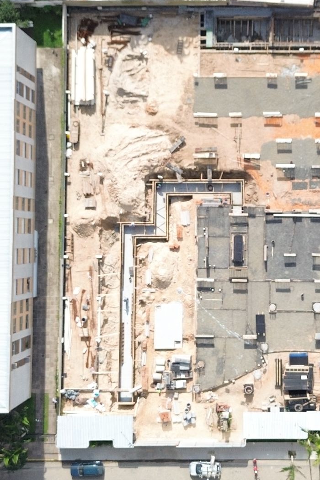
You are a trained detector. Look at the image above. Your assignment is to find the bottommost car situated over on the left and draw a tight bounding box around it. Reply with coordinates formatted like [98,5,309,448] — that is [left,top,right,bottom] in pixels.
[72,461,106,479]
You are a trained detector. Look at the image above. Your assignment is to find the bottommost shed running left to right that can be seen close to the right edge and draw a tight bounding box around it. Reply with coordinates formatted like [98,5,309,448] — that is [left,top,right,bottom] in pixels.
[243,408,309,440]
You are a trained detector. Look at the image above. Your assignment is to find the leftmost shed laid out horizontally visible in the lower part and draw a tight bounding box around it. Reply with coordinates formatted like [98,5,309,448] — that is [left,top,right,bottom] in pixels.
[57,413,135,448]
